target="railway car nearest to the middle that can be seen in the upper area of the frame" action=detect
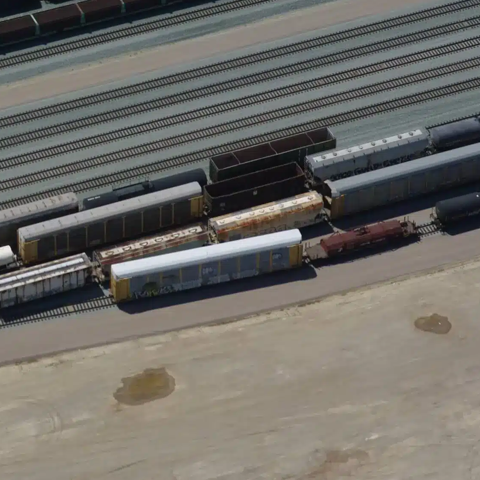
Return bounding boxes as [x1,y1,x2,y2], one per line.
[82,170,214,212]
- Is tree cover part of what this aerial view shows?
No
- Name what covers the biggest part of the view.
paved ground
